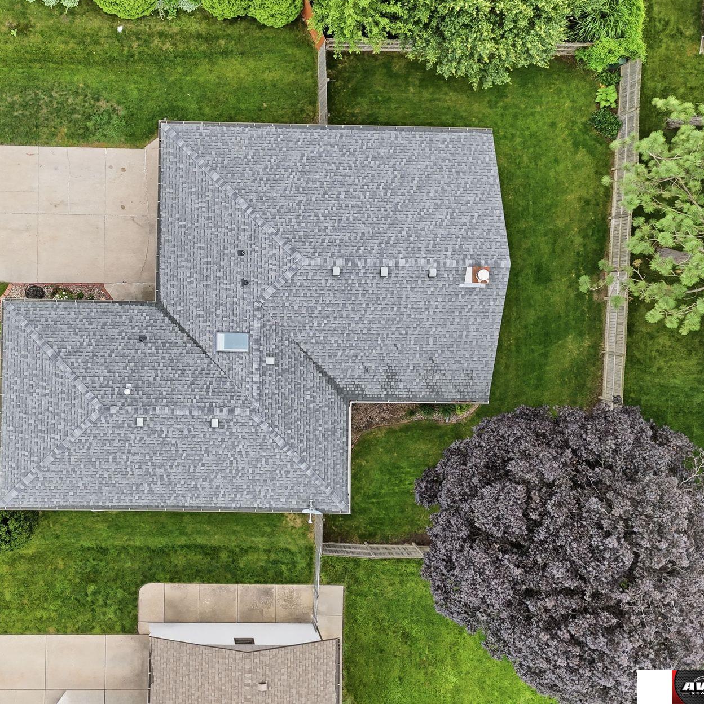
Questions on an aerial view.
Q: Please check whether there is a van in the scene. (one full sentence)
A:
No, no van is visible in the view.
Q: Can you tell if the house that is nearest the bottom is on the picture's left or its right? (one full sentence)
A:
The house that is nearest the bottom is on the left side of the image.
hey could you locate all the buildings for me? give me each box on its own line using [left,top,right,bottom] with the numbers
[0,117,511,516]
[147,622,340,704]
